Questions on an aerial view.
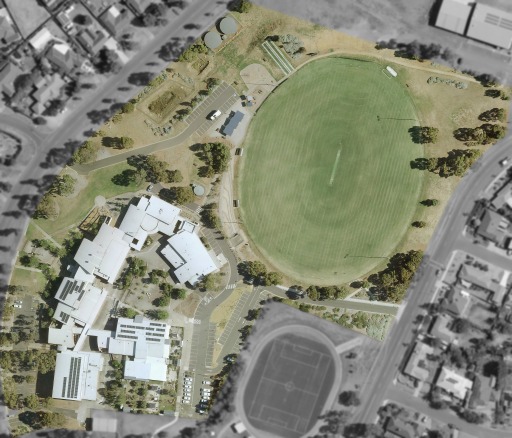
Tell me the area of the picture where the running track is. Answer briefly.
bottom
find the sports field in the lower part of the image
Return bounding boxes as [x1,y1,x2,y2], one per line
[238,326,342,438]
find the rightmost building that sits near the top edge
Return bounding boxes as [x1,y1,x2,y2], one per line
[467,0,512,50]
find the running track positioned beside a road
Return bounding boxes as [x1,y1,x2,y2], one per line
[238,326,342,438]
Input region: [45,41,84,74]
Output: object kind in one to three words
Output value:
house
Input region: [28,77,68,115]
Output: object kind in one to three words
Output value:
house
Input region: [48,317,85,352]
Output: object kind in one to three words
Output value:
building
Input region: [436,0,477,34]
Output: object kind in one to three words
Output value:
building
